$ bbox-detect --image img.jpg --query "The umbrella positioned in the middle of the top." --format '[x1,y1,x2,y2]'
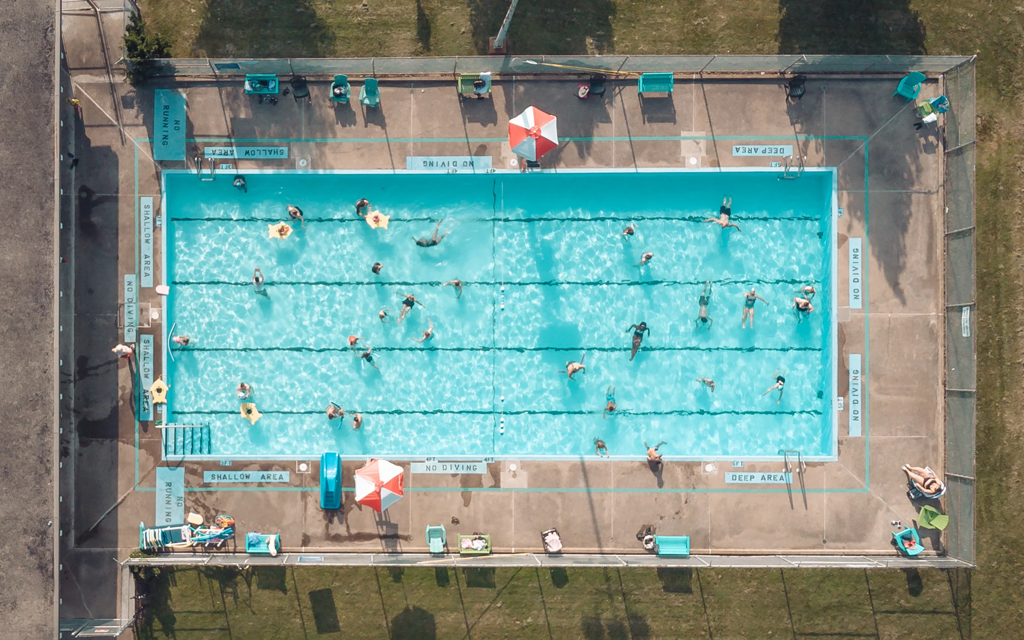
[510,108,559,163]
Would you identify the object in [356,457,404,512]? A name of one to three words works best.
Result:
umbrella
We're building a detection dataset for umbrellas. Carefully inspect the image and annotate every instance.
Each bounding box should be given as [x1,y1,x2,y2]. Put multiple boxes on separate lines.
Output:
[510,108,559,163]
[356,457,404,512]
